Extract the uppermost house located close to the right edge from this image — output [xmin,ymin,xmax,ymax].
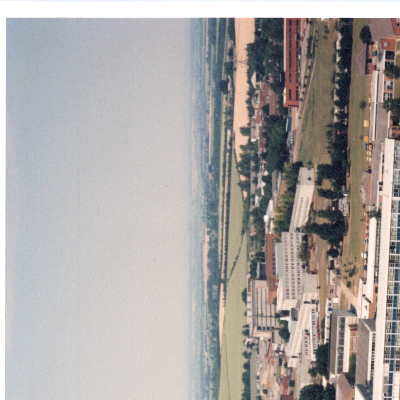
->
[372,9,400,40]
